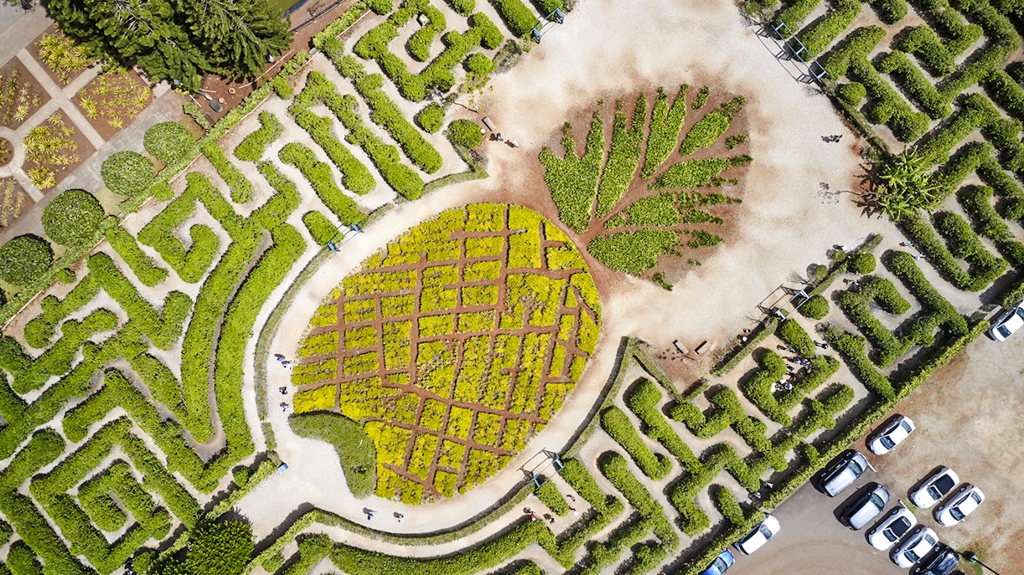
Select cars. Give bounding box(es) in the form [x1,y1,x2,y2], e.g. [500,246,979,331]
[888,524,941,569]
[864,414,918,455]
[734,511,783,557]
[691,546,737,575]
[933,484,987,527]
[908,465,962,508]
[910,542,961,575]
[818,450,871,500]
[867,506,919,550]
[838,482,892,533]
